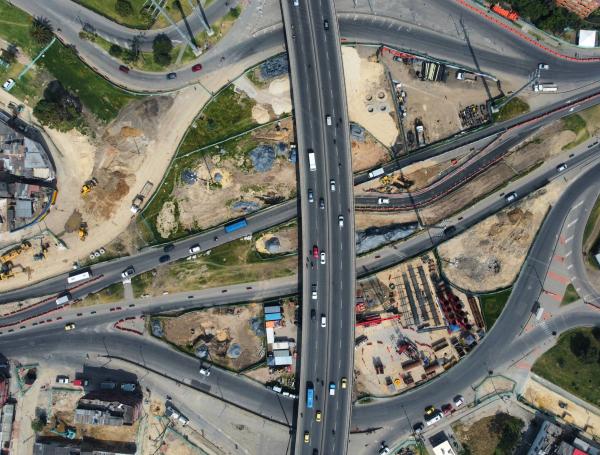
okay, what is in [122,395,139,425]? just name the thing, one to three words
house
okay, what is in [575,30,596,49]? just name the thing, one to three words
building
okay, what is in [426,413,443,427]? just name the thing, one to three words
vehicle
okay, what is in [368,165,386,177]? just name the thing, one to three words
vehicle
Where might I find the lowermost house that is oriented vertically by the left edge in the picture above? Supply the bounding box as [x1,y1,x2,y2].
[1,401,18,449]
